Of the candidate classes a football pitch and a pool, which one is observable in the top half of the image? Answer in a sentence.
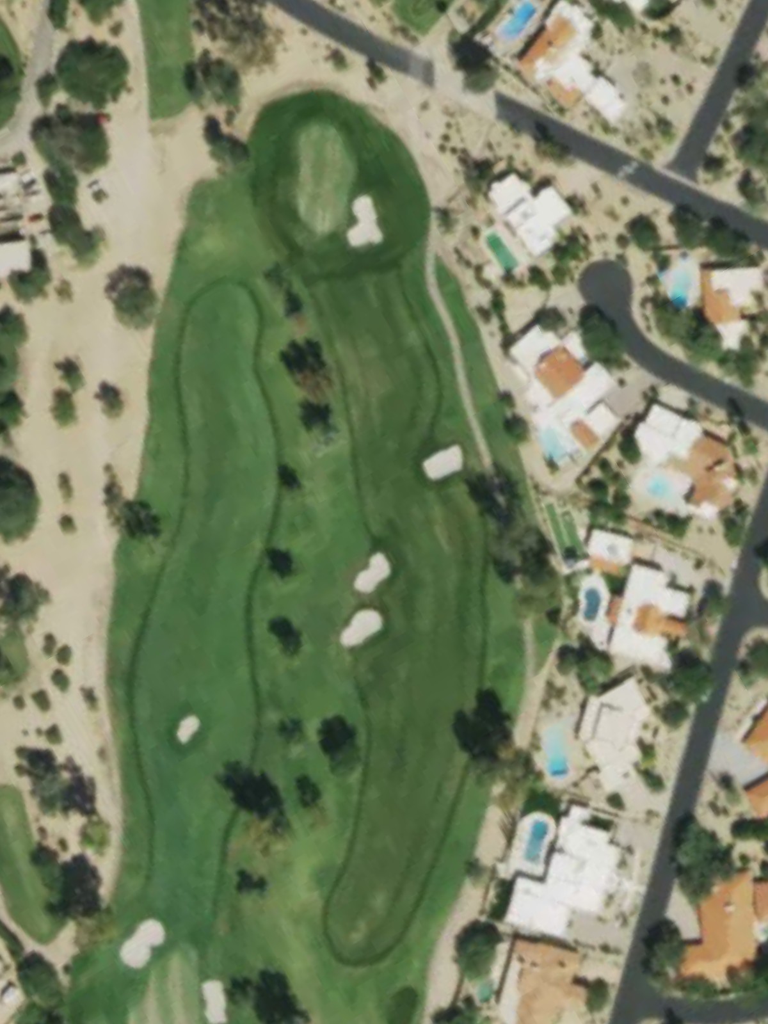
It is a pool that can be seen in the top half of the image.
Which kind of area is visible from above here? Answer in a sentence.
What you see here is a golf course.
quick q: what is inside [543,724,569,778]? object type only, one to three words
swimming pool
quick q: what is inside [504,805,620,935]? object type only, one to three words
house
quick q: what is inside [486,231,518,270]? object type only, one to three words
swimming pool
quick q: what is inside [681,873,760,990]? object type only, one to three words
house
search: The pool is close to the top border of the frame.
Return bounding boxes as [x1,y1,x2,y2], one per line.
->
[501,0,537,39]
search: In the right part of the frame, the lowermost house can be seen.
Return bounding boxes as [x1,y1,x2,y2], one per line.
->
[514,941,590,1024]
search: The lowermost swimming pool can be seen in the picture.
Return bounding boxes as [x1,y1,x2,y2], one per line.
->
[477,983,493,1002]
